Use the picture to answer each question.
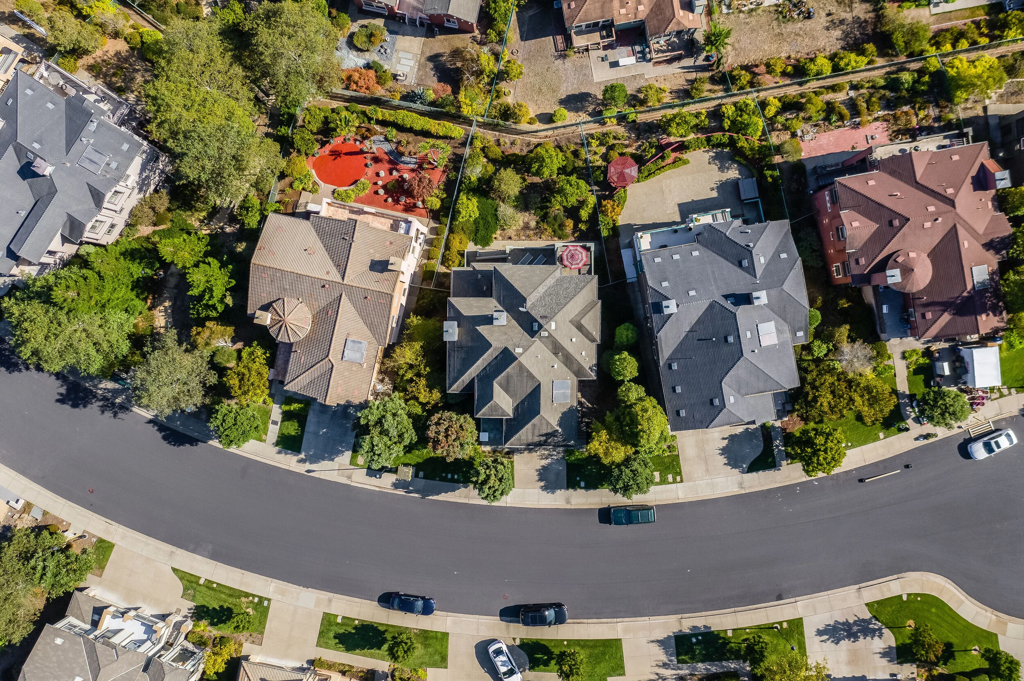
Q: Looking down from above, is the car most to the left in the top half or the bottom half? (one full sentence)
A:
Seen from above, the car most to the left lies in the bottom half of the view.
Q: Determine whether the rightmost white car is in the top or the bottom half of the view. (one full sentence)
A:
You can find the rightmost white car in the bottom half.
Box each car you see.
[521,603,567,628]
[965,428,1018,460]
[490,640,524,681]
[610,503,657,527]
[390,590,436,616]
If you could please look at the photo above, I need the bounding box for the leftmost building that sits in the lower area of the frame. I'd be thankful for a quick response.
[18,588,214,681]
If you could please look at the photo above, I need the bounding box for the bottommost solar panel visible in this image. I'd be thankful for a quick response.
[551,382,574,402]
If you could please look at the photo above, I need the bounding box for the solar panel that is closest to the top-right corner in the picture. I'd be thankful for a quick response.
[972,267,993,286]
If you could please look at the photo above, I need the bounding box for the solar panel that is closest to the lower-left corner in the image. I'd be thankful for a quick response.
[338,338,372,365]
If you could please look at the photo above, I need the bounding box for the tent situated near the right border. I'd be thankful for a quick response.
[949,345,1001,388]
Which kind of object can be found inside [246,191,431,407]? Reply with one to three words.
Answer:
house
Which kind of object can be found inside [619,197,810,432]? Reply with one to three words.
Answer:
house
